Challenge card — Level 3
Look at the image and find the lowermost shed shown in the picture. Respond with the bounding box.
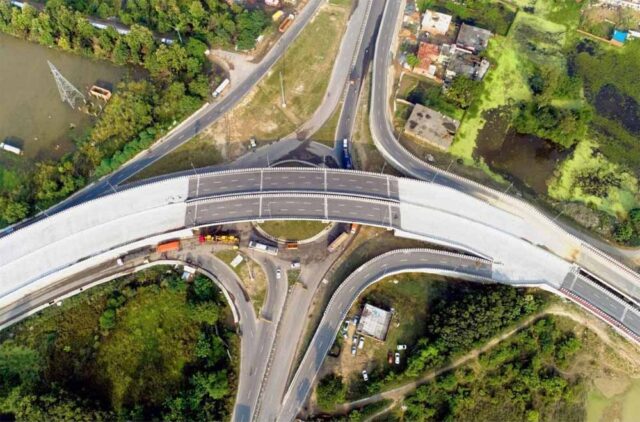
[357,303,392,342]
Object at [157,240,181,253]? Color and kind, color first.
orange vehicle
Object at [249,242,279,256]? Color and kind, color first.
white vehicle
